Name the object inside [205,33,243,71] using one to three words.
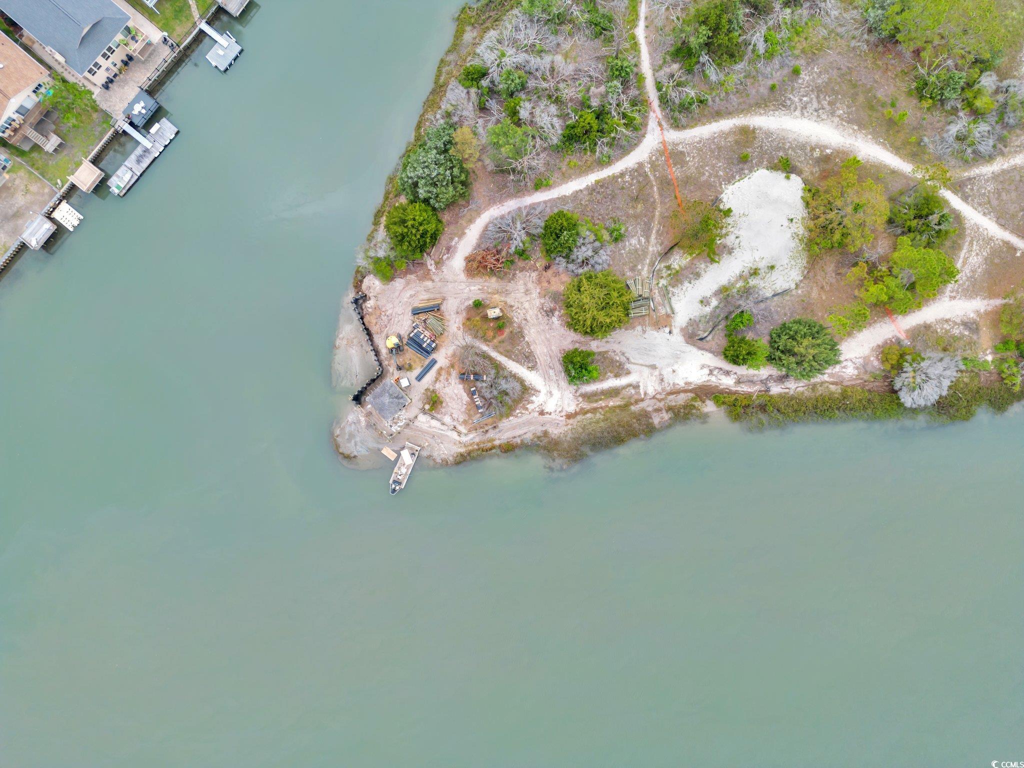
pier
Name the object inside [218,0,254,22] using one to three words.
pier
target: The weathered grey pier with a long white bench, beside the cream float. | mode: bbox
[16,215,64,250]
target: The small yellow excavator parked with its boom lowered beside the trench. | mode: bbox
[385,330,405,371]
